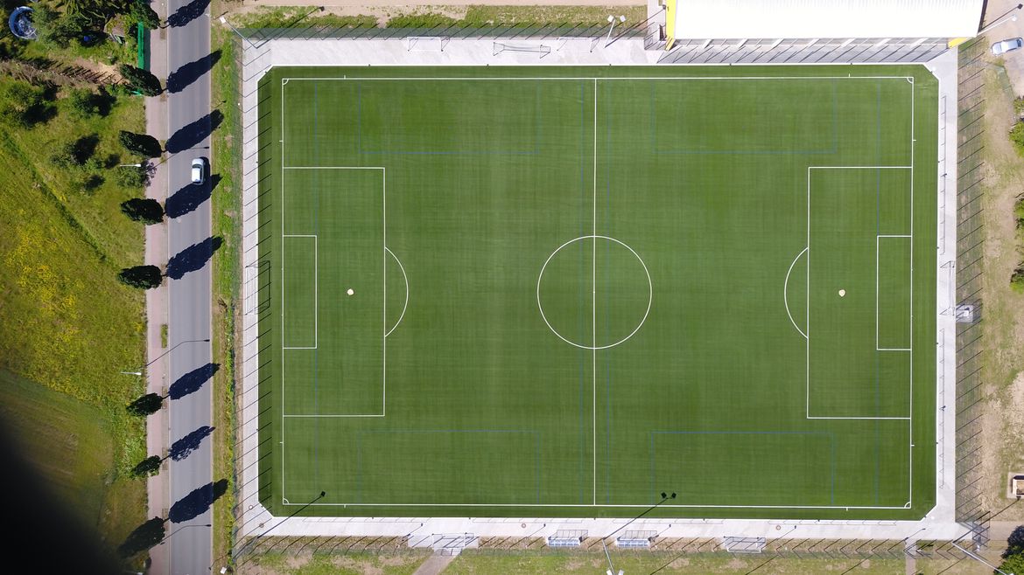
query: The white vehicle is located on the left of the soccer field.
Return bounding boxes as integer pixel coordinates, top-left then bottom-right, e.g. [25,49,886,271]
[190,158,204,185]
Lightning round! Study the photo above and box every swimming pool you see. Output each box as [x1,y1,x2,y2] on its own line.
[10,9,39,39]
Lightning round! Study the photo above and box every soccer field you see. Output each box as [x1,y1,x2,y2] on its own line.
[257,62,940,522]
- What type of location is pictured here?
sports ground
